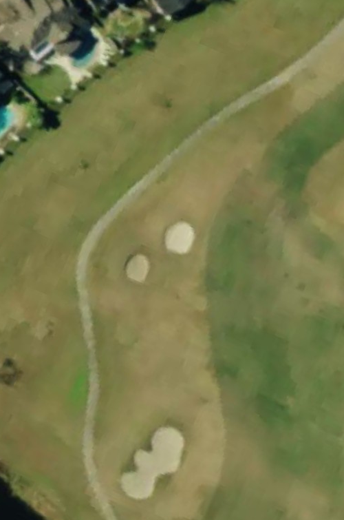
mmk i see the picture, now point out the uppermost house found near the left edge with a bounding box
[0,0,80,58]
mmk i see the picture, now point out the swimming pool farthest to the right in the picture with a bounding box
[69,16,102,68]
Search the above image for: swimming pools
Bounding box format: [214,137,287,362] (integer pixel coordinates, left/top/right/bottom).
[0,103,17,138]
[69,16,102,68]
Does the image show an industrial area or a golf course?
golf course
